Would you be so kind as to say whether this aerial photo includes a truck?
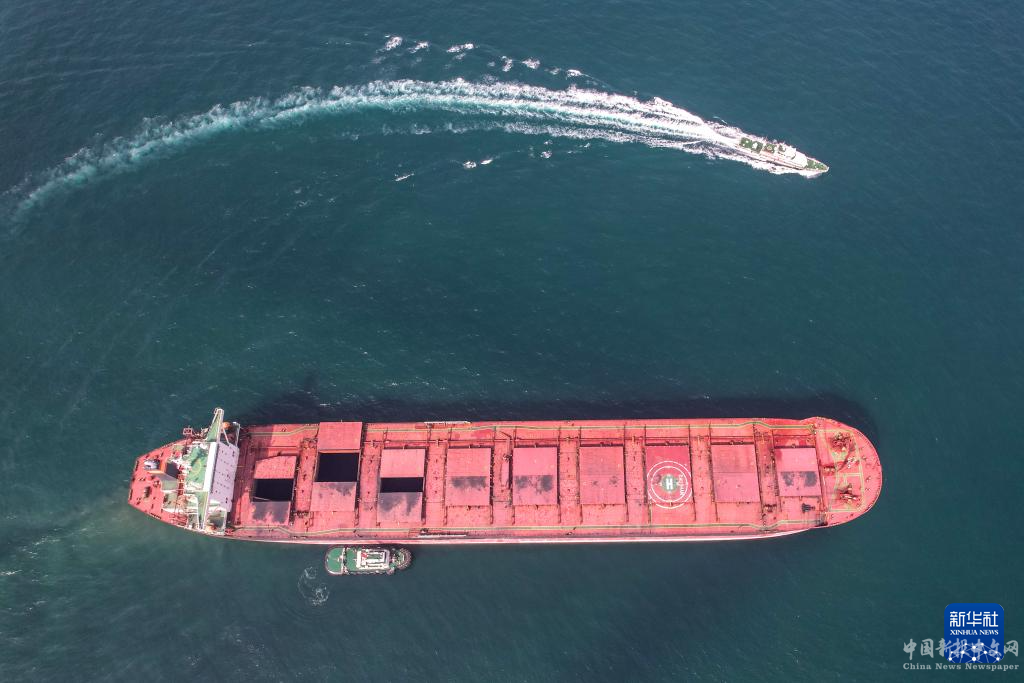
No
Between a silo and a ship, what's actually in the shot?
ship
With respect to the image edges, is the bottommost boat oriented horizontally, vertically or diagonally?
horizontally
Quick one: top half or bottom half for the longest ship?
bottom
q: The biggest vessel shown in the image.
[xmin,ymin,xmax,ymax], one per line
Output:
[129,409,881,546]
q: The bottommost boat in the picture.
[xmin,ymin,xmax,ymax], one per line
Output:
[325,545,412,576]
